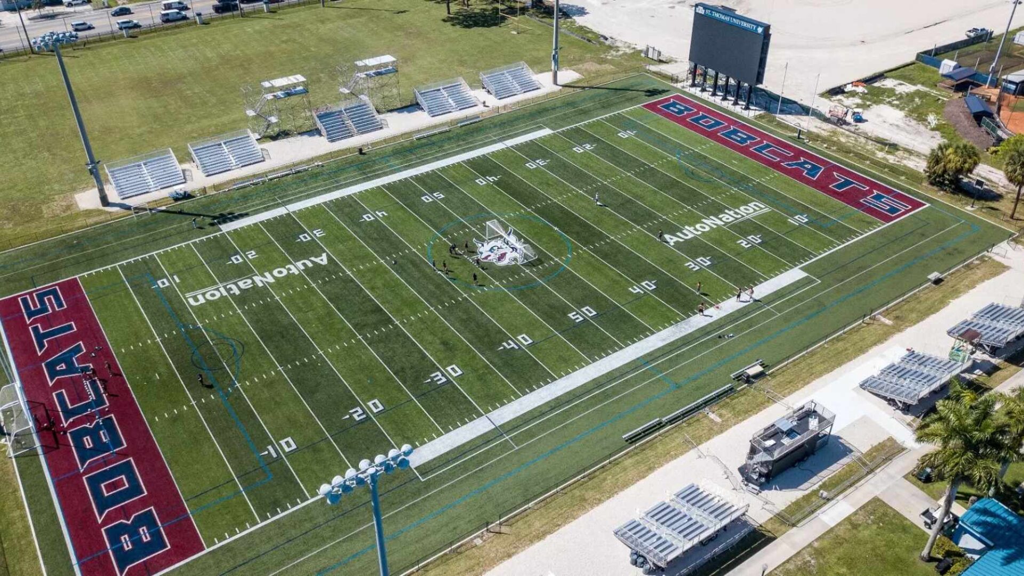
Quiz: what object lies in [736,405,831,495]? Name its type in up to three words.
trailer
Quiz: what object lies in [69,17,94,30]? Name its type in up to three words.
vehicle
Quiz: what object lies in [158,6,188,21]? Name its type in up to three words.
vehicle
